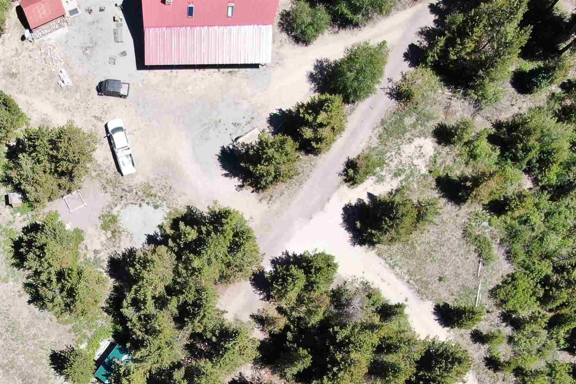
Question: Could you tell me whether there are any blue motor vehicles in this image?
No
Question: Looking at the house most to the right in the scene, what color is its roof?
white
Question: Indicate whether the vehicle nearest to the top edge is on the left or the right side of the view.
left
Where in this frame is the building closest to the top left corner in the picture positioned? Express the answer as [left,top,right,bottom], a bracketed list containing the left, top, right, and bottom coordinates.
[20,0,65,33]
